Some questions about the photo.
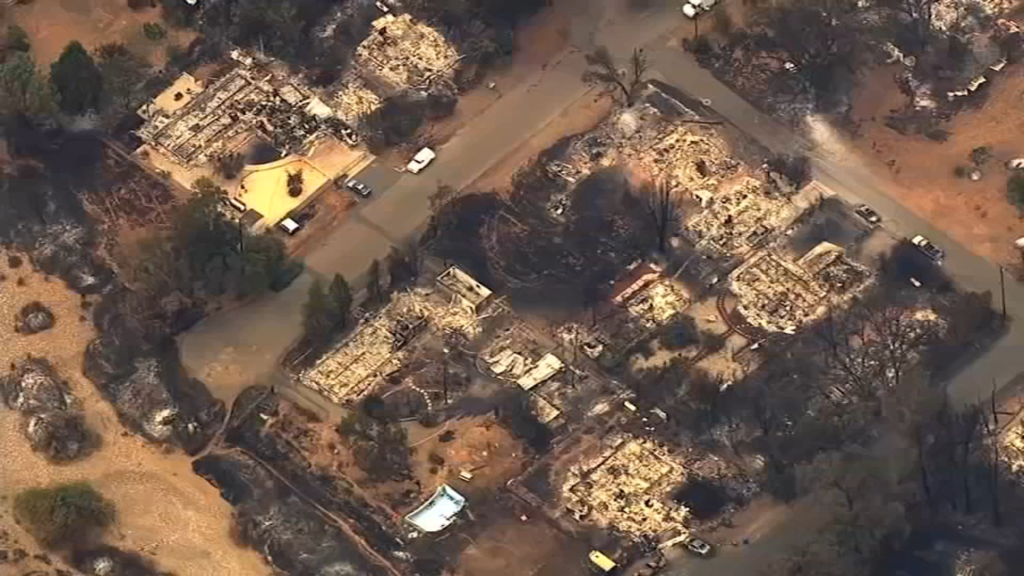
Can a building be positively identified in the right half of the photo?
Yes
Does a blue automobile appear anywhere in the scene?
No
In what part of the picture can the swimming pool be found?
bottom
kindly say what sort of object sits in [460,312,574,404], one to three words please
shed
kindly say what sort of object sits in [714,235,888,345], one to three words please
house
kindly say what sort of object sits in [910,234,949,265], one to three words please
truck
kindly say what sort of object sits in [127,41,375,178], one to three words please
house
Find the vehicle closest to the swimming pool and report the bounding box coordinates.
[583,545,619,575]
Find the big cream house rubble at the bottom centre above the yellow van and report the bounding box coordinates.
[545,423,709,567]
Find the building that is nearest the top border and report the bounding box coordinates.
[344,5,471,96]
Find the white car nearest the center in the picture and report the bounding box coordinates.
[406,148,435,174]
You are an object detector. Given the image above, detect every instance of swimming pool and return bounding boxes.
[401,481,468,534]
